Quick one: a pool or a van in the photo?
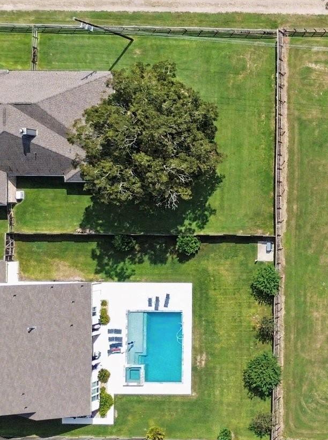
pool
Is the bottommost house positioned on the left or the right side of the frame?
left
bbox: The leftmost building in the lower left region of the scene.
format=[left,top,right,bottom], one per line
[0,282,102,421]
